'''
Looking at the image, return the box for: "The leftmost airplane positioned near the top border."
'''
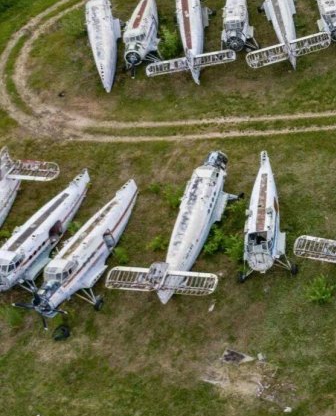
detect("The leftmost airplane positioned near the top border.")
[84,0,129,95]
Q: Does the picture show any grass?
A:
Yes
